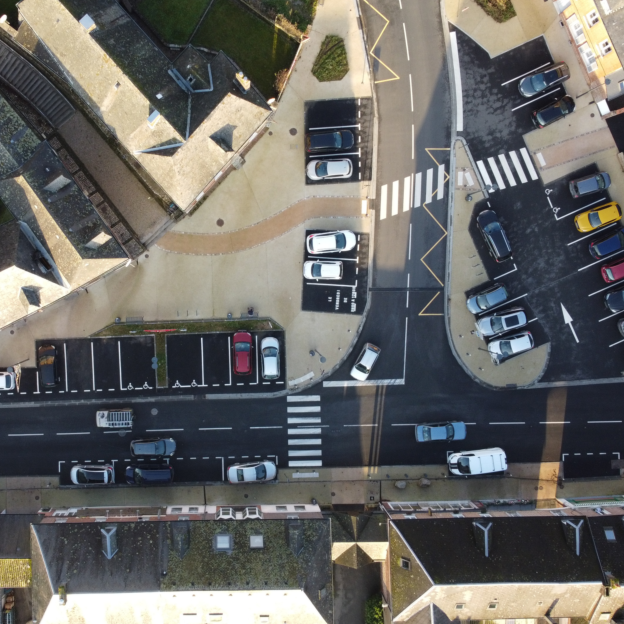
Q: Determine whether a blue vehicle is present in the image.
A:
Yes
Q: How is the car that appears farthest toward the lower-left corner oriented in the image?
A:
from left to right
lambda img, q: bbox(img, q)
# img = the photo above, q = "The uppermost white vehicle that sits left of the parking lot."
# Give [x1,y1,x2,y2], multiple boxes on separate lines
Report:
[306,157,353,181]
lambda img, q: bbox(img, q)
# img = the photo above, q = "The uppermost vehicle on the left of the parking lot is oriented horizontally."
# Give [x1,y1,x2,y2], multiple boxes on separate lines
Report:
[305,128,354,153]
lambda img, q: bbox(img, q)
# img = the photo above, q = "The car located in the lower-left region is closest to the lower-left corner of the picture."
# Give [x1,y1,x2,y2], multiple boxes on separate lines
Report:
[71,464,116,487]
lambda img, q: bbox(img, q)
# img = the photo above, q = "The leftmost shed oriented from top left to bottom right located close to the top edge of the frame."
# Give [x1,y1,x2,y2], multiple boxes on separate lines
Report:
[13,21,71,85]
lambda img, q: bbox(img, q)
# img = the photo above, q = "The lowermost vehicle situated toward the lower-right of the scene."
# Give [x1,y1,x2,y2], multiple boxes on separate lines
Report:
[444,448,511,475]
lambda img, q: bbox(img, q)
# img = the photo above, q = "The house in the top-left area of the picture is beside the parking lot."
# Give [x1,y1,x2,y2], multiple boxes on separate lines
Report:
[16,0,313,215]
